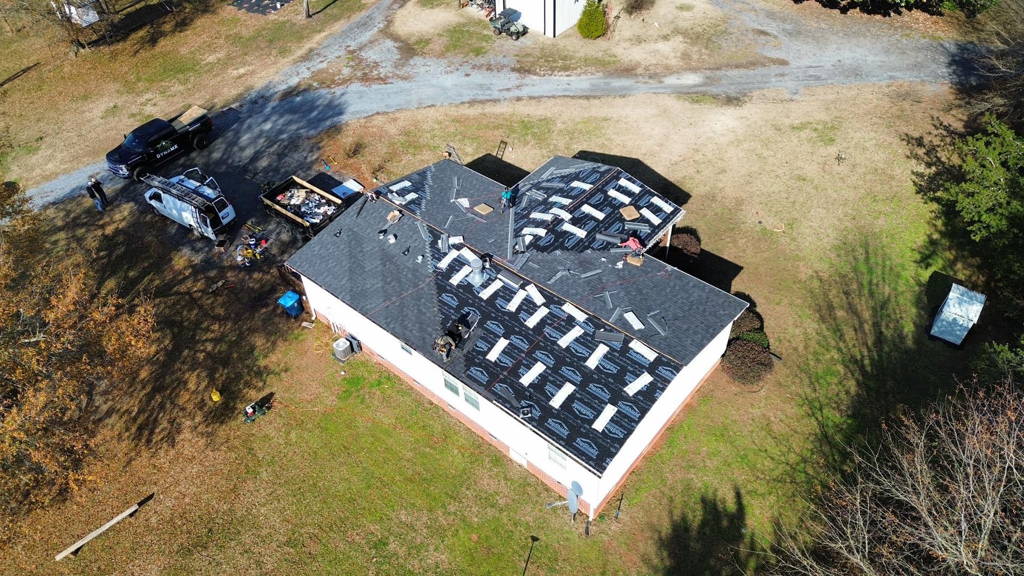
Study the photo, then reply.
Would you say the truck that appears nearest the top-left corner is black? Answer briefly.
Yes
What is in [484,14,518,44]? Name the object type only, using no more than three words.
vehicle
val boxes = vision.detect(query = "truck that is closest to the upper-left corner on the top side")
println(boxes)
[98,112,217,183]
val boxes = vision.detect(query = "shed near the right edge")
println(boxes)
[929,282,983,345]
